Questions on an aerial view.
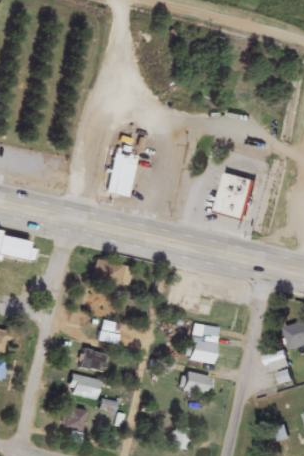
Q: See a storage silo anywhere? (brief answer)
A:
No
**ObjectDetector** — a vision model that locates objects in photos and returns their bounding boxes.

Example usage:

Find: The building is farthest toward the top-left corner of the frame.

[106,146,140,196]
